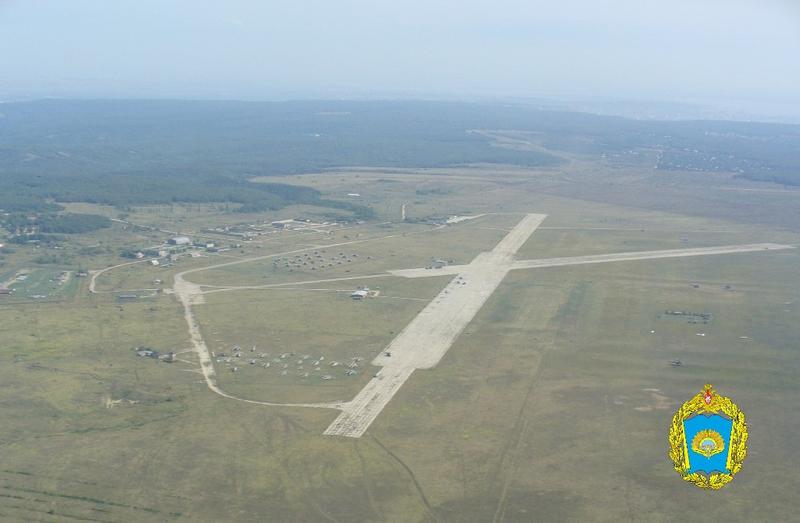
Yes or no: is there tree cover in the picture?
Yes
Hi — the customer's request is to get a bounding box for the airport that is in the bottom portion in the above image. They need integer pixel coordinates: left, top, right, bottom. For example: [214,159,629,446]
[162,213,796,438]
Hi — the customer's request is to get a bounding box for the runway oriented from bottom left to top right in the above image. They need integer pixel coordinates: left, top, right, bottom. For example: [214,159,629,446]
[372,213,546,368]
